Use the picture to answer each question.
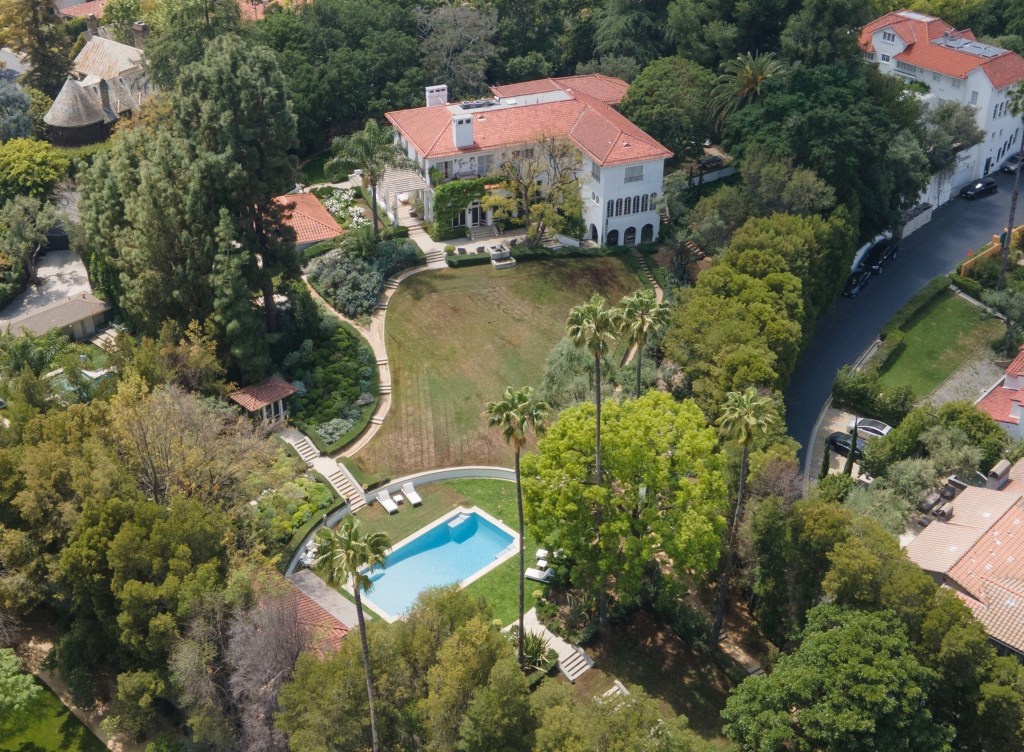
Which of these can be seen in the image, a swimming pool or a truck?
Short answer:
swimming pool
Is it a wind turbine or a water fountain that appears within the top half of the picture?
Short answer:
water fountain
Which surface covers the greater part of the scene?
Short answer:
trees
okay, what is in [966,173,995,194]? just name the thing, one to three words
car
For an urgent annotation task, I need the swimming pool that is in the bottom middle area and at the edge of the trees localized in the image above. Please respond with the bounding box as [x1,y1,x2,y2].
[338,504,520,621]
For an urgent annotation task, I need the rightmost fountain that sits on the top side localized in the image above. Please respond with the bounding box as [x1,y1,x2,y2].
[486,248,515,273]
